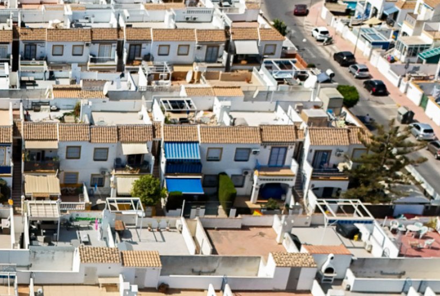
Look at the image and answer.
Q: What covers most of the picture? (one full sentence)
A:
What you mostly see from above here is buildings.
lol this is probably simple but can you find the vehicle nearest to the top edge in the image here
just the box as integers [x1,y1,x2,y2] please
[291,1,309,13]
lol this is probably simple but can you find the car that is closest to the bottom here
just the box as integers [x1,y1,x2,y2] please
[423,137,440,156]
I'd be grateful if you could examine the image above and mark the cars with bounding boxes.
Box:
[423,137,440,156]
[363,76,390,91]
[306,24,331,38]
[346,61,372,75]
[332,48,357,62]
[409,120,438,137]
[291,1,309,13]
